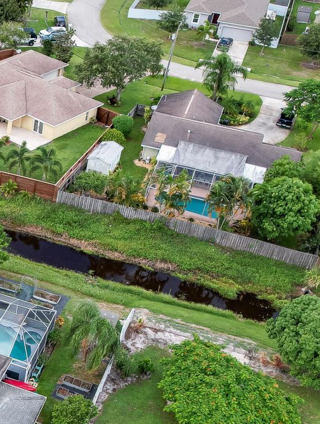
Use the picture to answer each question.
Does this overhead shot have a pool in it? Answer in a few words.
Yes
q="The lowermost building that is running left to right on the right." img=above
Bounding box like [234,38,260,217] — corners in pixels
[136,89,312,188]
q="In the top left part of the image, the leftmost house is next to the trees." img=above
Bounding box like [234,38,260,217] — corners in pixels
[0,50,104,142]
